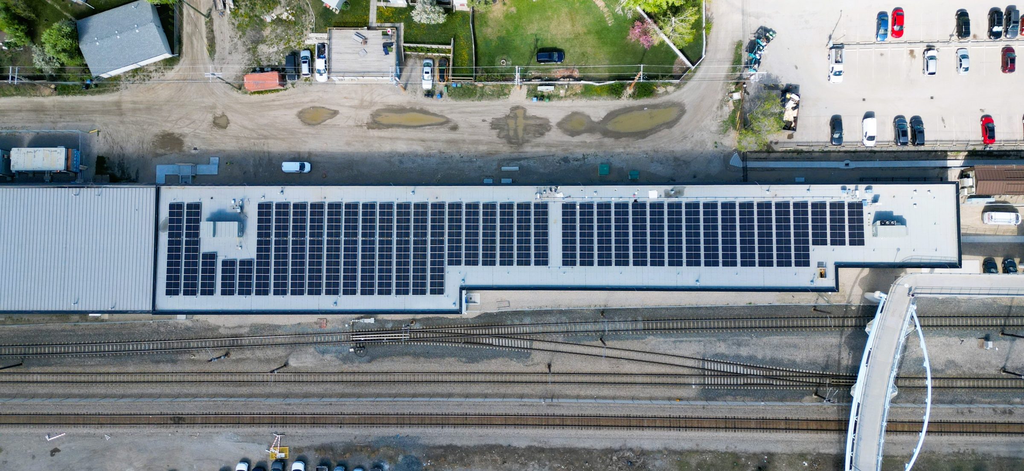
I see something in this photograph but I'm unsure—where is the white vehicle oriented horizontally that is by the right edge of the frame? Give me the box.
[982,210,1023,225]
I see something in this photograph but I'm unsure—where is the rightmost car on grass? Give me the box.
[537,50,565,64]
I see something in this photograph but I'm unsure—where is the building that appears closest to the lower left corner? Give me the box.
[0,183,157,314]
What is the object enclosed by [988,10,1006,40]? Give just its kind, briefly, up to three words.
car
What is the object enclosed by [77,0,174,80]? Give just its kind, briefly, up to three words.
house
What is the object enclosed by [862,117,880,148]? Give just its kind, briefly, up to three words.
vehicle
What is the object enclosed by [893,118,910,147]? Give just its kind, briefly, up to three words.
car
